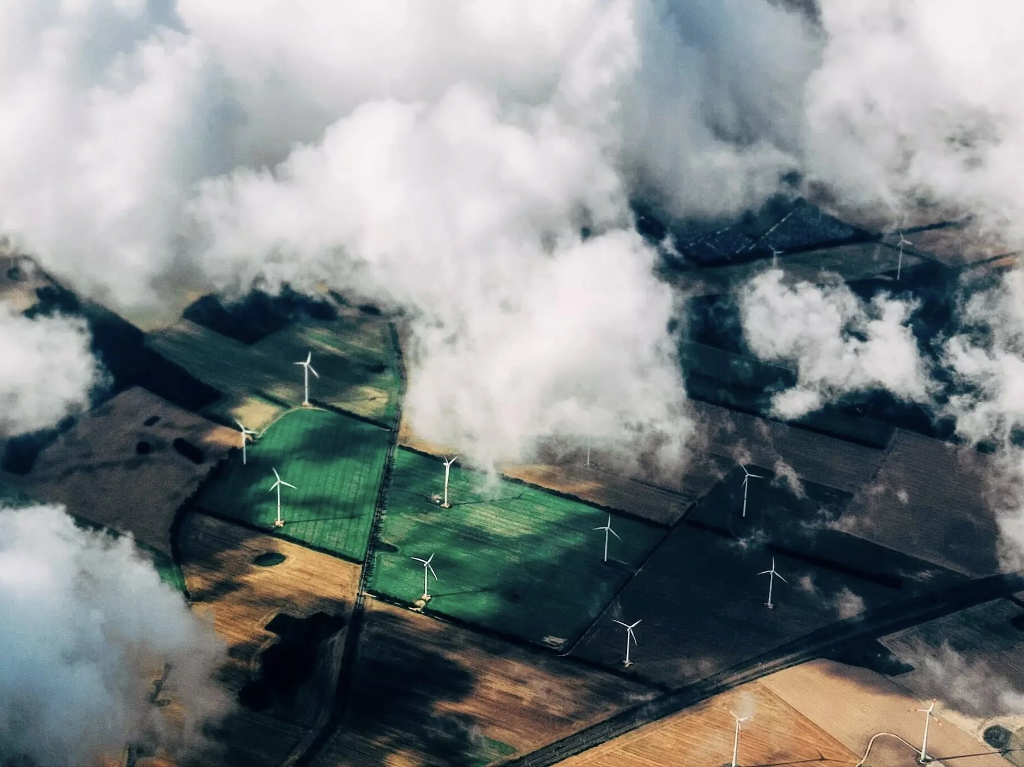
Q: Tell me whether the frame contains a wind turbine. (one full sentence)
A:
Yes, there is a wind turbine in the image.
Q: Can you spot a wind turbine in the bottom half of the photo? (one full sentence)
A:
Yes, the scene does show a wind turbine in the bottom half of the photo.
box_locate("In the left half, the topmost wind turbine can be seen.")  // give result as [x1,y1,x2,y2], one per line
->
[295,351,317,402]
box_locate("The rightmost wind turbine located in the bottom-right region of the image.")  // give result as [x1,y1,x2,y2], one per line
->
[914,695,944,762]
